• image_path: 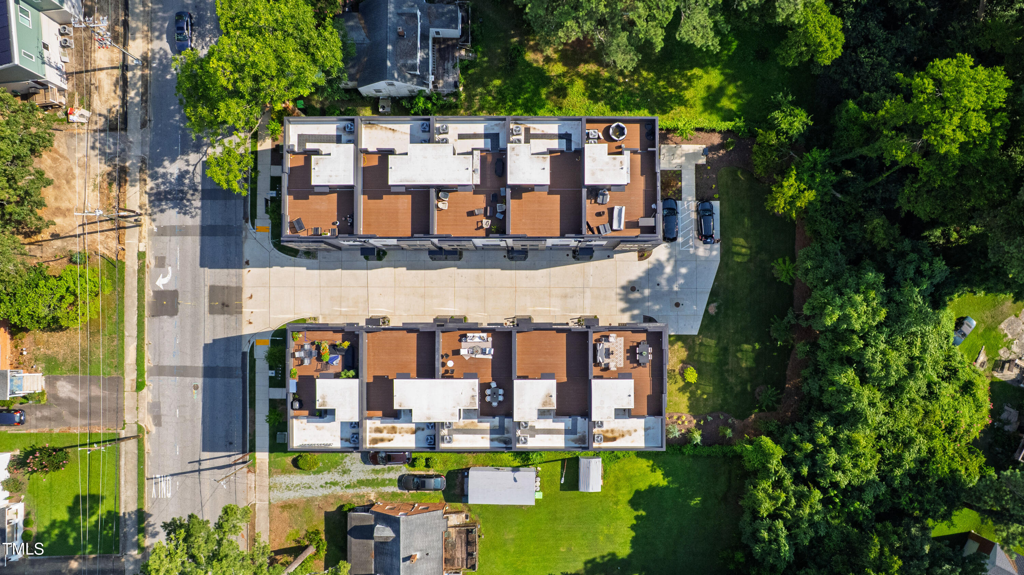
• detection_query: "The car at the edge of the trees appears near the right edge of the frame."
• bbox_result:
[943,312,980,349]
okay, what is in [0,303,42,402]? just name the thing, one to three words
house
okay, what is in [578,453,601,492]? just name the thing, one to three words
shed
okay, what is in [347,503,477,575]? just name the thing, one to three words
house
